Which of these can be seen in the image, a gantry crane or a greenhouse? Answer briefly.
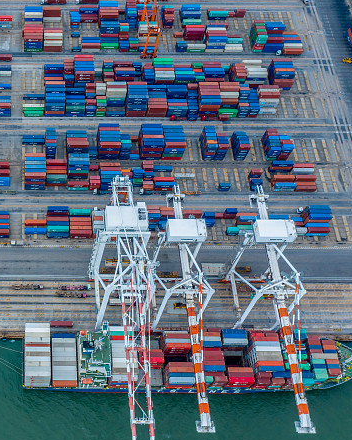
gantry crane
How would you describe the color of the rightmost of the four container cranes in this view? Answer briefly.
white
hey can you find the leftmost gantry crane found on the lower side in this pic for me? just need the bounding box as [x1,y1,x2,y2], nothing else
[84,167,160,440]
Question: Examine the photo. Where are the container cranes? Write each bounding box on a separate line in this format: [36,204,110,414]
[84,167,160,440]
[146,183,217,428]
[217,184,317,430]
[140,4,163,58]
